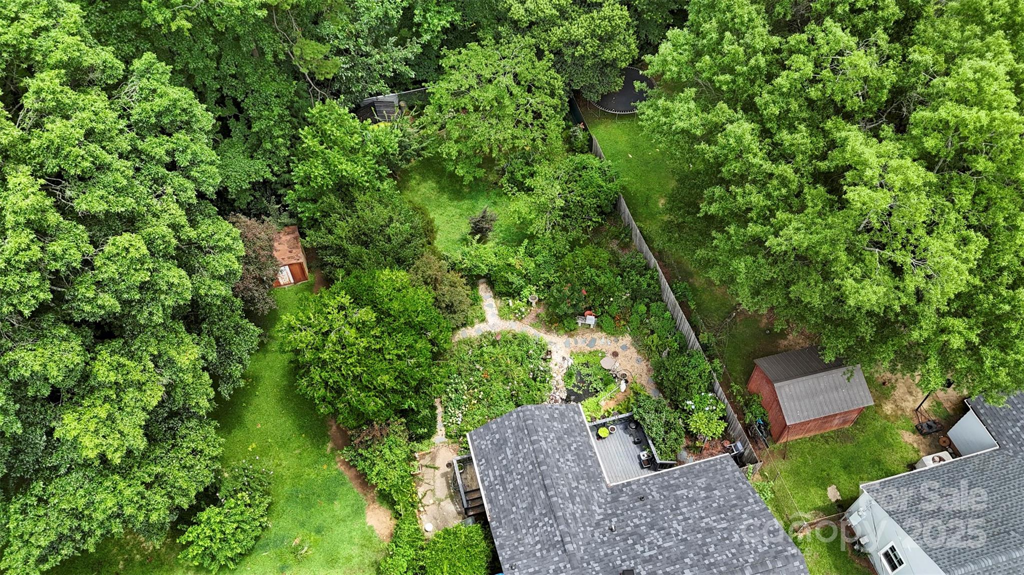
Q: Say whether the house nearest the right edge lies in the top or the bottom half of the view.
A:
bottom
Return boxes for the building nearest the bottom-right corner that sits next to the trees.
[849,376,1024,575]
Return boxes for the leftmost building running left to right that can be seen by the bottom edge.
[464,406,808,575]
